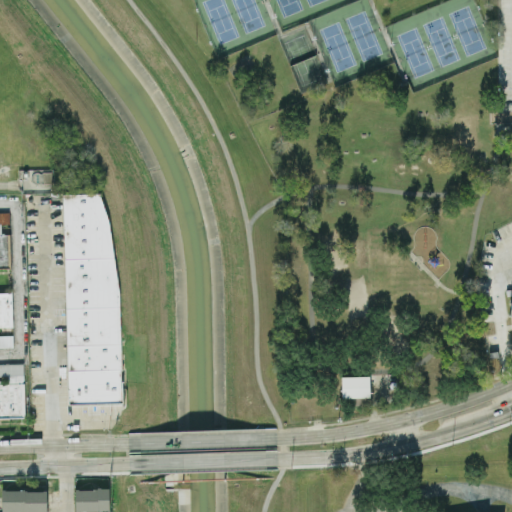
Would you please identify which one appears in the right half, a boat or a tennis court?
tennis court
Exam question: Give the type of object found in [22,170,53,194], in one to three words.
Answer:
building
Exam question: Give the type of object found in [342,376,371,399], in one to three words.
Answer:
house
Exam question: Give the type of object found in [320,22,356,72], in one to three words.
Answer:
tennis court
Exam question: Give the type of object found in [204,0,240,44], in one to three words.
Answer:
tennis court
